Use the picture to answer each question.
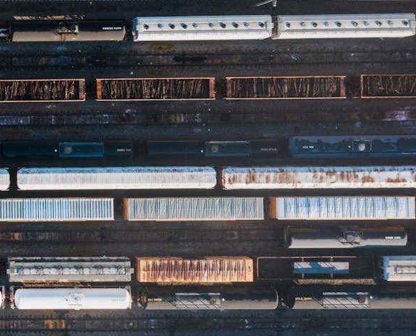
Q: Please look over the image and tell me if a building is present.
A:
No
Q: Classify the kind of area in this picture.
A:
rail yard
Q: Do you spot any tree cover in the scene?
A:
No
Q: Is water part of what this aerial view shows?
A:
No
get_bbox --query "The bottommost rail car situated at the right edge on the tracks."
[279,283,416,311]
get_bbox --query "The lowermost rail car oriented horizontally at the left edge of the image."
[8,284,135,312]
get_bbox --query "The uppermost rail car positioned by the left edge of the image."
[3,17,128,44]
